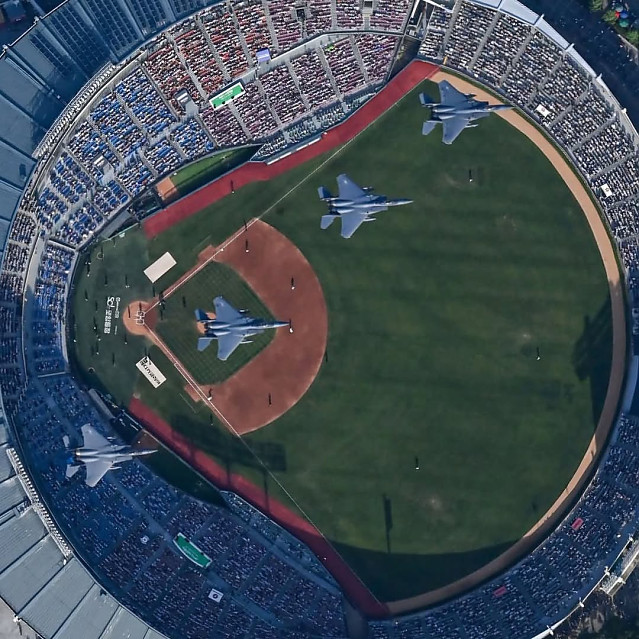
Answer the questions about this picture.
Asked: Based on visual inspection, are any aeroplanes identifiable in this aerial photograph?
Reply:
Yes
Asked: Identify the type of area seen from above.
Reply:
sports ground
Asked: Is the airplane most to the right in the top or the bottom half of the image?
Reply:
top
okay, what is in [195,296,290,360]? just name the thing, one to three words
airplane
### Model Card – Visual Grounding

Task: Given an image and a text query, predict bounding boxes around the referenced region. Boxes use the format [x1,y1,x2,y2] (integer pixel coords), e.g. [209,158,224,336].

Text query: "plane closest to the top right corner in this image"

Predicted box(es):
[419,79,514,144]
